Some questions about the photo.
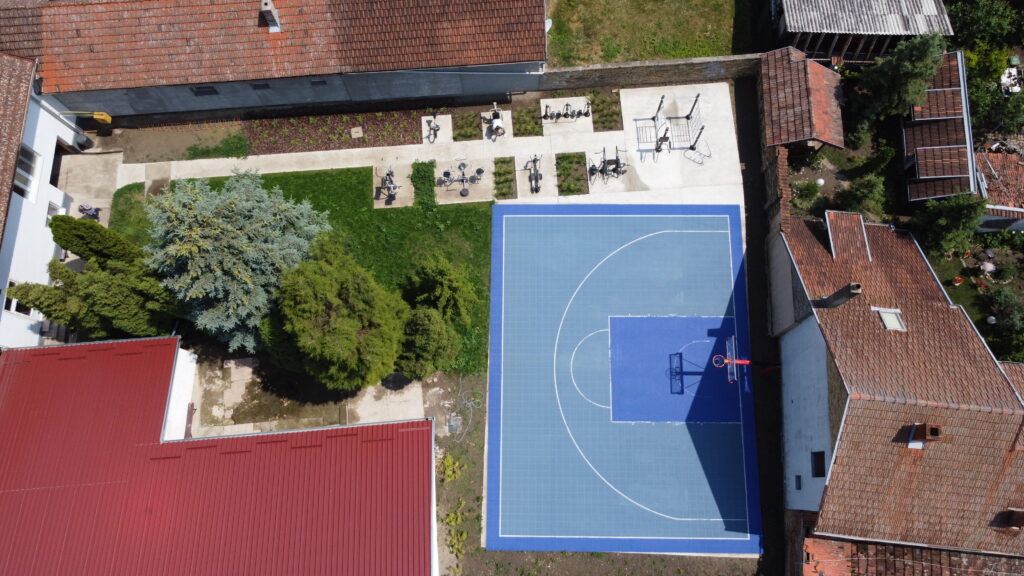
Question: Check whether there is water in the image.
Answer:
No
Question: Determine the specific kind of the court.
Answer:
basketball court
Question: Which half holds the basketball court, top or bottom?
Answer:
bottom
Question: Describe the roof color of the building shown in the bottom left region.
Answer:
red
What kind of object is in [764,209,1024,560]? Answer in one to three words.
house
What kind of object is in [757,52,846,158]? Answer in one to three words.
shed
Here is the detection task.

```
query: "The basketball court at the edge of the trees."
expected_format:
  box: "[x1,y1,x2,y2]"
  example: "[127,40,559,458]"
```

[481,203,762,558]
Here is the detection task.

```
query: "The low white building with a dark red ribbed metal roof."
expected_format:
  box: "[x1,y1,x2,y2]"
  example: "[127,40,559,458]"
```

[0,334,439,576]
